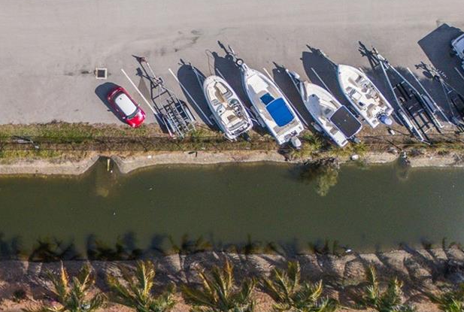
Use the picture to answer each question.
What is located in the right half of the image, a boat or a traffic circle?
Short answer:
boat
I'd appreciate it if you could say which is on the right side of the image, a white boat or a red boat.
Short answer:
white boat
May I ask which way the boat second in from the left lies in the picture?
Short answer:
diagonally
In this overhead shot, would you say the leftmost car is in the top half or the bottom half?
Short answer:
top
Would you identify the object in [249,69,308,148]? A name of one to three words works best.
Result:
boat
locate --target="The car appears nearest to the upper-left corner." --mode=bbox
[106,81,144,129]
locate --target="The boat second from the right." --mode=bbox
[309,86,362,154]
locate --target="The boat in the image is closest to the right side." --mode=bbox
[342,69,392,137]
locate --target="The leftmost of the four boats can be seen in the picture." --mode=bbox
[208,81,256,148]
